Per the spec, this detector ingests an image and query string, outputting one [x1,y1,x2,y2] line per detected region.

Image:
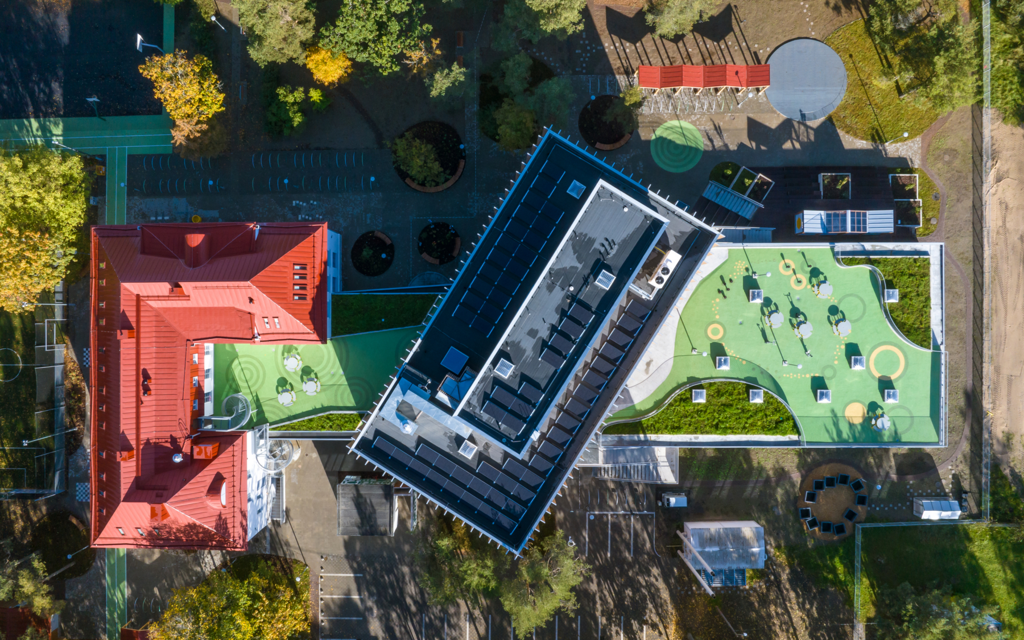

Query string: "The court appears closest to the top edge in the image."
[0,0,163,120]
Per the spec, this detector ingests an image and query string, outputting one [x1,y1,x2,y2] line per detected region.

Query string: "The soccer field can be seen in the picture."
[0,274,65,498]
